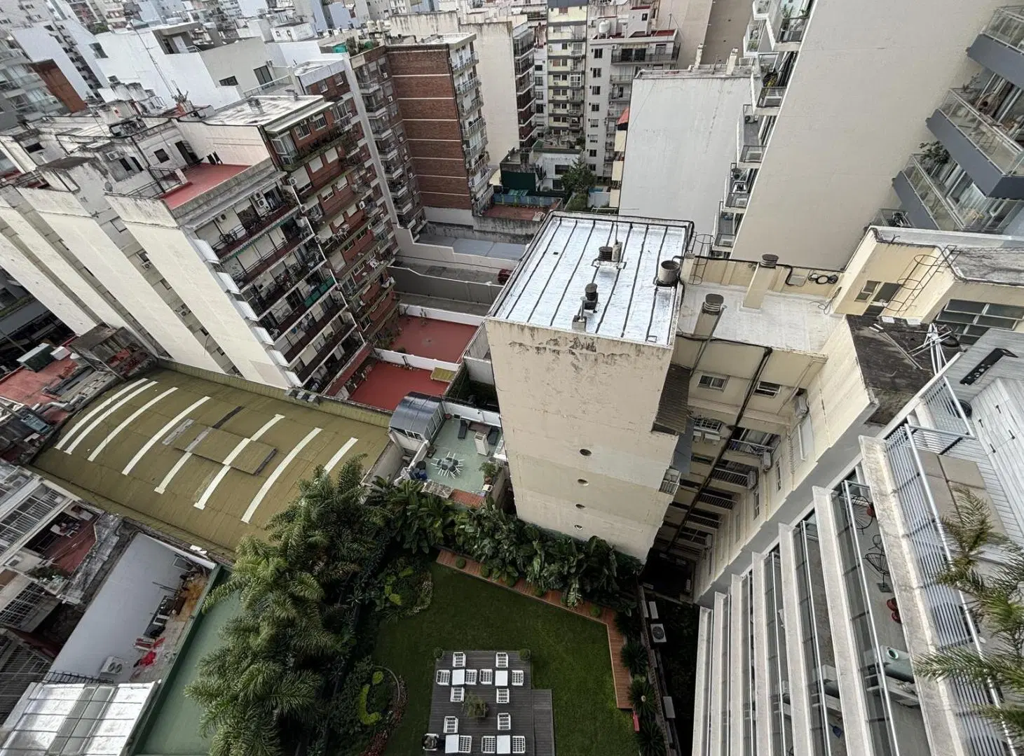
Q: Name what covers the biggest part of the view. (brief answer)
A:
buildings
